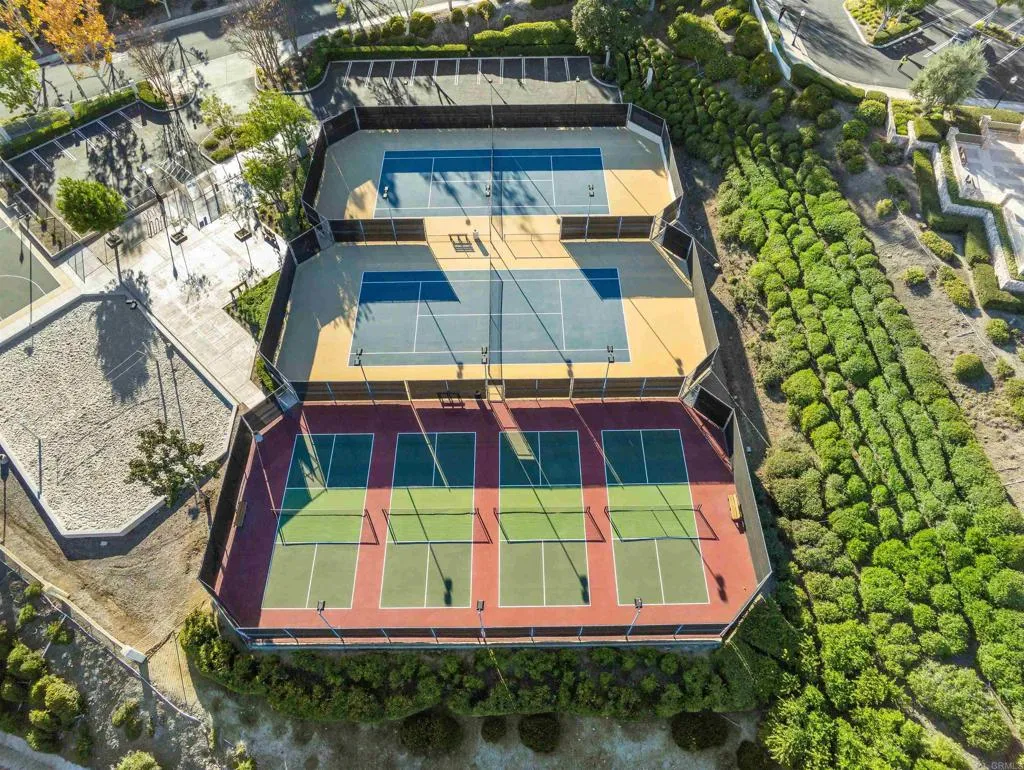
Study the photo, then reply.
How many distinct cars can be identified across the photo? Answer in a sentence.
The picture shows just 1 car.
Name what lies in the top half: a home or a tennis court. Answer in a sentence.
You can see a tennis court in the top half.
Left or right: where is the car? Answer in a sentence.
The car sits on the right side.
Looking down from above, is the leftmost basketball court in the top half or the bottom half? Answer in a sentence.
The leftmost basketball court is in the top half of the image.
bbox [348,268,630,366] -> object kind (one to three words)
tennis court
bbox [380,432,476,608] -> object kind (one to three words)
sports court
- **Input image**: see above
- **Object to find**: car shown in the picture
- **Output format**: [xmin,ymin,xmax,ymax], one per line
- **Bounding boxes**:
[953,22,986,44]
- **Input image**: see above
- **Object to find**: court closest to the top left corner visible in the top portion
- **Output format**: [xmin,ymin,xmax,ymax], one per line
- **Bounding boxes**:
[0,196,78,333]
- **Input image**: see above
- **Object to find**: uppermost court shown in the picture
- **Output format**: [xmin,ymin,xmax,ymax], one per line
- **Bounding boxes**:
[373,147,610,218]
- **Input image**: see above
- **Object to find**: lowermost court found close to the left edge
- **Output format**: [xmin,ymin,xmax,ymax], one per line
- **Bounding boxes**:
[0,290,243,542]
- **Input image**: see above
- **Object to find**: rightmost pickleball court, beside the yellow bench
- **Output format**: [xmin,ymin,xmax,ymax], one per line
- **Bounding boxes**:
[602,430,711,605]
